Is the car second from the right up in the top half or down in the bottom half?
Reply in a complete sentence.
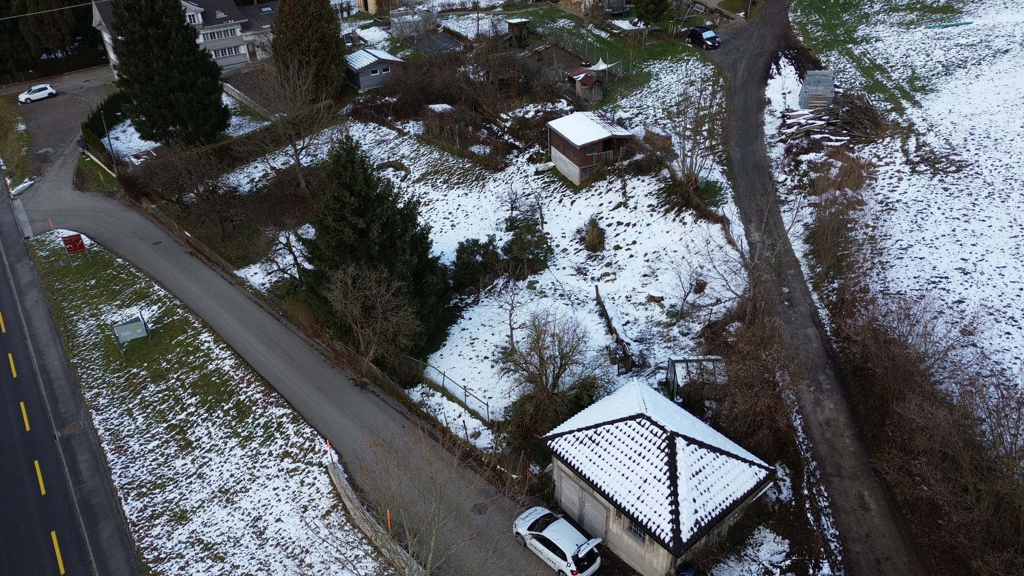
The car second from the right is in the bottom half of the image.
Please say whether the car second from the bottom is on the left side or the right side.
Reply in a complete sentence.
It is on the left.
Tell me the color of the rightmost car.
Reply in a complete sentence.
In this view, the rightmost car is black.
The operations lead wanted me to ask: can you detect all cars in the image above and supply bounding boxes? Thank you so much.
[686,28,720,48]
[513,506,609,576]
[15,80,58,103]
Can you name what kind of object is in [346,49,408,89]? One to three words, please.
shed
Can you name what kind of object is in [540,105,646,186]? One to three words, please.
shed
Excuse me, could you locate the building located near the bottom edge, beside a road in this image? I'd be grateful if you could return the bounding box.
[537,382,779,576]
